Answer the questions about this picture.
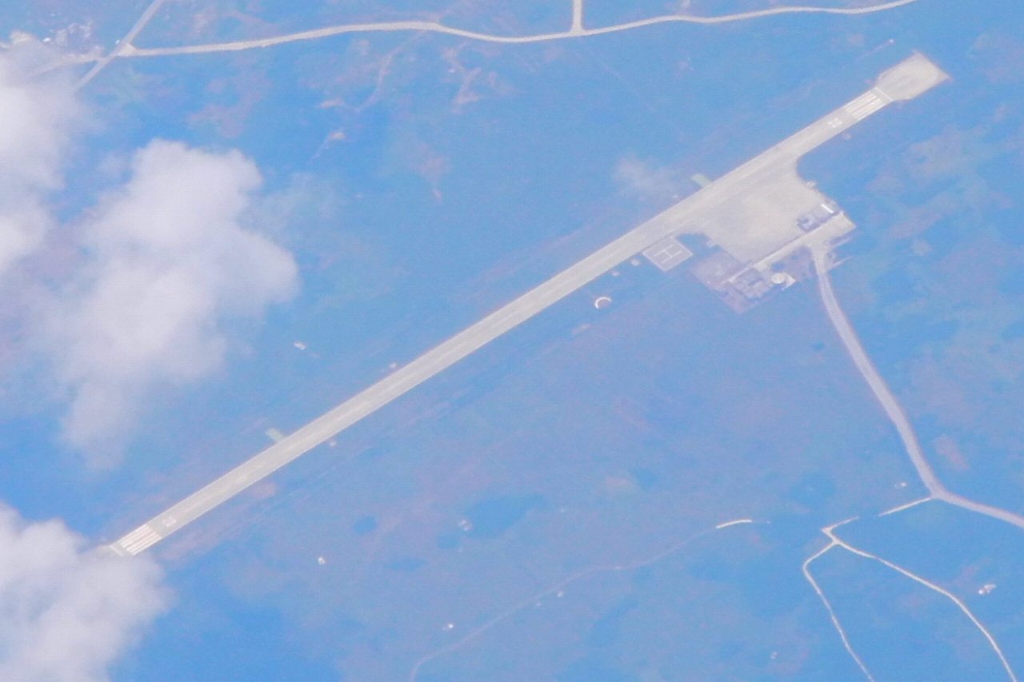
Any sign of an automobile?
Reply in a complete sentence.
No, the photo shows no automobile.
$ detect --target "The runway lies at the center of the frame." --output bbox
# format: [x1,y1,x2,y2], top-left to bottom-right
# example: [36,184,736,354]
[101,88,893,563]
